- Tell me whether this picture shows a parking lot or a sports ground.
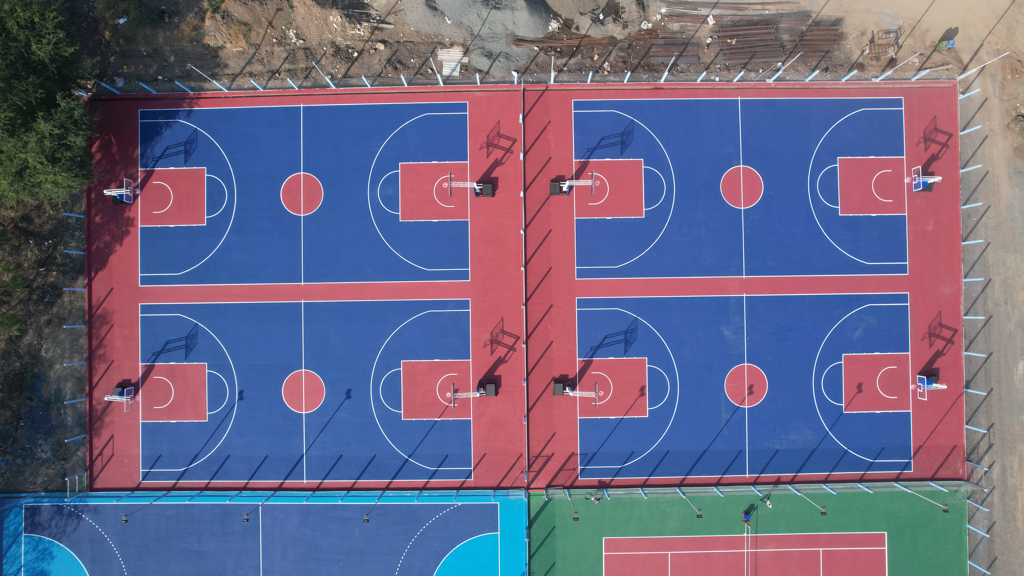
sports ground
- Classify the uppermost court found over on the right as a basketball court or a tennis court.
basketball court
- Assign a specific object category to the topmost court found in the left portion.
basketball court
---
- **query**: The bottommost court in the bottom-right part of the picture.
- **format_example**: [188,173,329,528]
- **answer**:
[604,533,887,576]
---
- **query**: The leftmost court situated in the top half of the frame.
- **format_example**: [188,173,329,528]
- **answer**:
[139,102,469,286]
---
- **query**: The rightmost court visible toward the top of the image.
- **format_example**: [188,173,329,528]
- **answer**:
[573,98,908,279]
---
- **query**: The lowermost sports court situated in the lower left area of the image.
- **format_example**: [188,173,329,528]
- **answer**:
[24,503,499,576]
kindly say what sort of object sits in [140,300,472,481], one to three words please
basketball court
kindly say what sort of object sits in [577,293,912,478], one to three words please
basketball court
